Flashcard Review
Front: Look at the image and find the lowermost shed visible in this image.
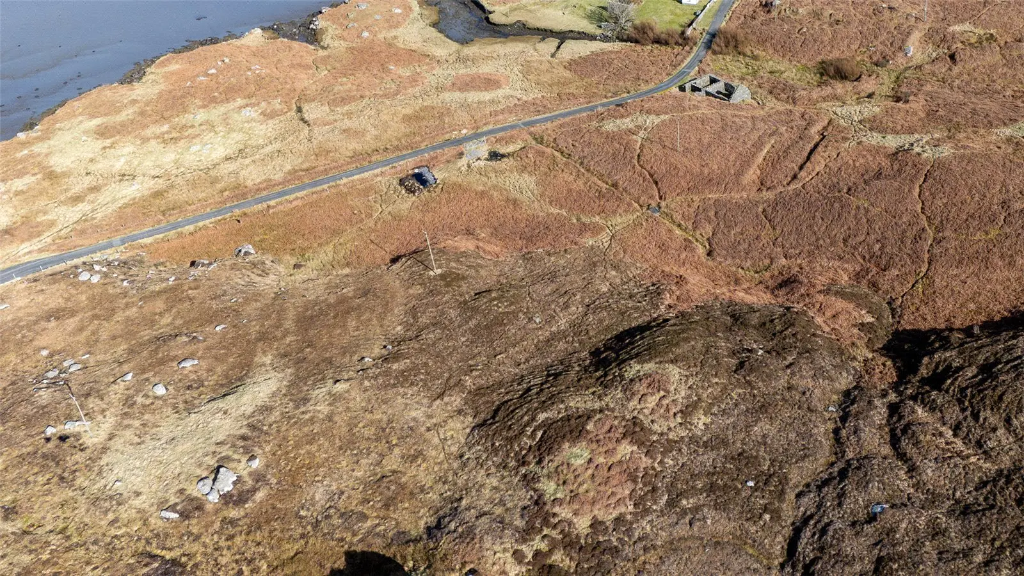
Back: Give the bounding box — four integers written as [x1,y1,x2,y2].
[403,164,439,194]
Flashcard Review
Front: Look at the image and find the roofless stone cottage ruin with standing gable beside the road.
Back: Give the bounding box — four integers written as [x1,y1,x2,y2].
[679,75,751,106]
